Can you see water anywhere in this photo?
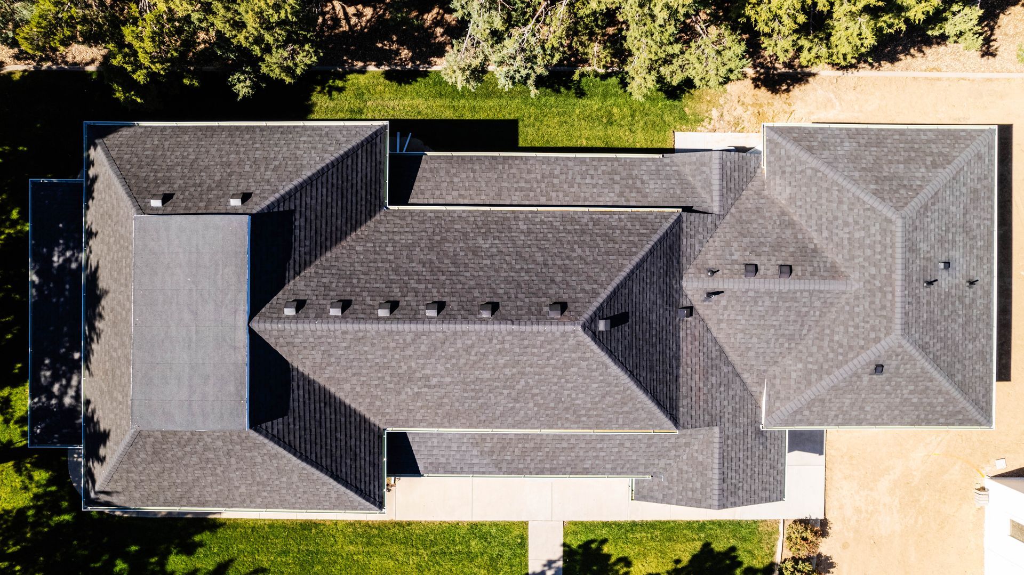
No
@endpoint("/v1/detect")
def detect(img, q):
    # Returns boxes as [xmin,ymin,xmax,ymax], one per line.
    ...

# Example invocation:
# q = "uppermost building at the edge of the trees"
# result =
[28,121,996,513]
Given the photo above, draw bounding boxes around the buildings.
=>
[969,476,1024,575]
[28,121,996,513]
